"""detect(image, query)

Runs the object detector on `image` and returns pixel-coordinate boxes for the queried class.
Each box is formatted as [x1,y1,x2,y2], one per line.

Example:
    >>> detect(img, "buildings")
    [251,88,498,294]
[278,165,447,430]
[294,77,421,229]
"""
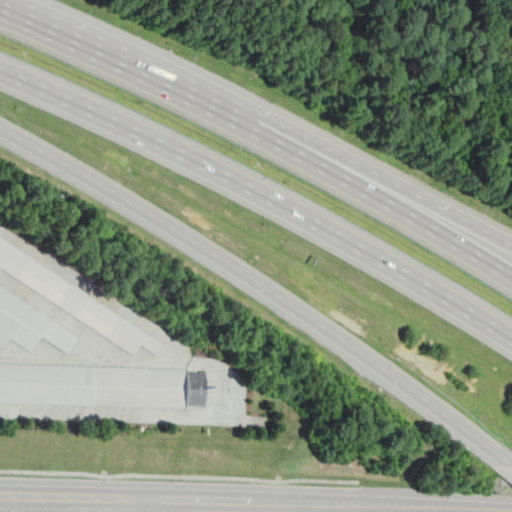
[0,285,86,359]
[188,372,208,406]
[0,235,170,360]
[0,366,186,408]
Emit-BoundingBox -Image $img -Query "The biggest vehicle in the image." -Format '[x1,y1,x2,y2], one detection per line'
[138,62,178,82]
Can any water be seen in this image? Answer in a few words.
No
